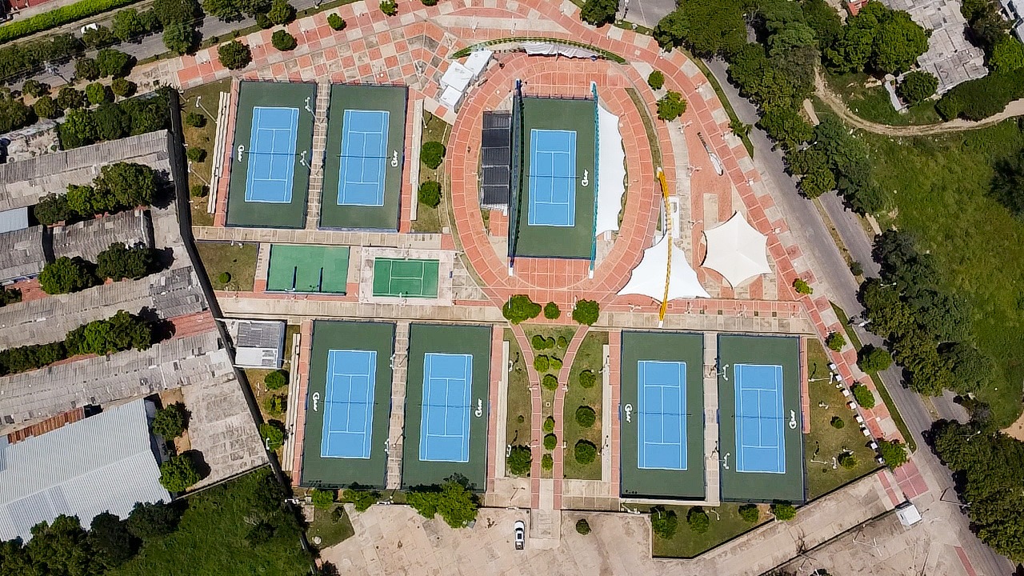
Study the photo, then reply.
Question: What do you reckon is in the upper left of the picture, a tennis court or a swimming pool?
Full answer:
What appears in the upper left of the picture is a tennis court.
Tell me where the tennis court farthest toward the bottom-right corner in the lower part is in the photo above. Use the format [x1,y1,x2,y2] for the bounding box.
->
[717,336,804,502]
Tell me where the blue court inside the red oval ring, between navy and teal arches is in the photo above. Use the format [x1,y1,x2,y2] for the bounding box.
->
[518,97,593,258]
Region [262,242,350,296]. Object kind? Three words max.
sports court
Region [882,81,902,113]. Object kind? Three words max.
shed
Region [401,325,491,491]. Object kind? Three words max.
tennis court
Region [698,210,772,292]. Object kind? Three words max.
tent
